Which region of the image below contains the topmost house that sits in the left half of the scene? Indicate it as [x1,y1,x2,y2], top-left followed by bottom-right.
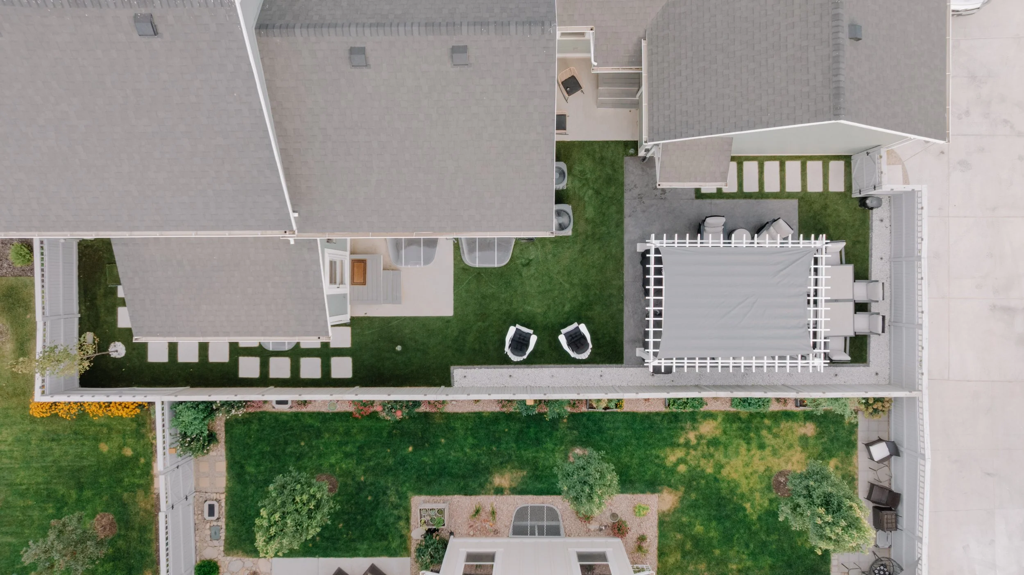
[0,0,678,341]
